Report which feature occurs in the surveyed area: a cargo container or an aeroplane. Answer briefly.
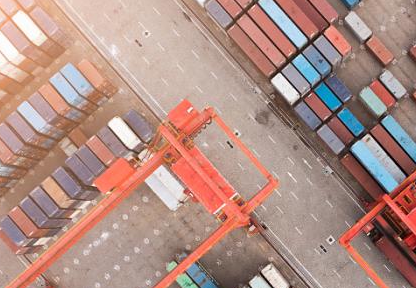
cargo container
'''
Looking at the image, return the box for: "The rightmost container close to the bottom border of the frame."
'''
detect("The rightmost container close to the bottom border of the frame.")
[374,237,416,288]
